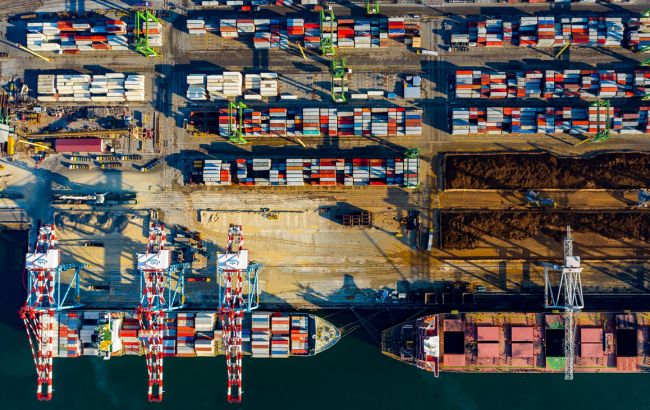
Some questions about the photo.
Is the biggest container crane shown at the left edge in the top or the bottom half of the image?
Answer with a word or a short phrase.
bottom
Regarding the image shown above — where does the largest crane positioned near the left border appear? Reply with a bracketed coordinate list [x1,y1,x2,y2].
[13,225,93,400]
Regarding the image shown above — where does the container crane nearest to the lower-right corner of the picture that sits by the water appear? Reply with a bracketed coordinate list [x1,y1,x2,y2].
[538,225,590,380]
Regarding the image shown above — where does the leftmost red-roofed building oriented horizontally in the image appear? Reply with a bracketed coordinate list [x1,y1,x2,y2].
[53,138,103,152]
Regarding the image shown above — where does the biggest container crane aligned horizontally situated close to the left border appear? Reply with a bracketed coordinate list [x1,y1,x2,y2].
[23,127,143,144]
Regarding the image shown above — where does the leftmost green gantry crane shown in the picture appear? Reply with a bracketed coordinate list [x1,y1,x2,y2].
[136,13,162,58]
